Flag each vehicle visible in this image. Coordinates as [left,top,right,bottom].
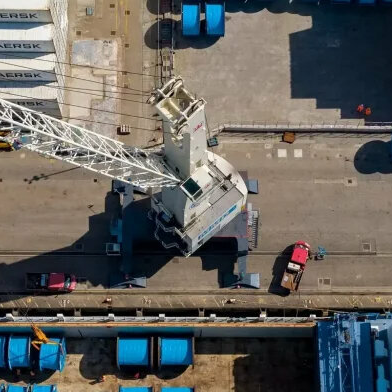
[24,270,75,290]
[285,242,309,291]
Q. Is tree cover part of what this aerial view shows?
No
